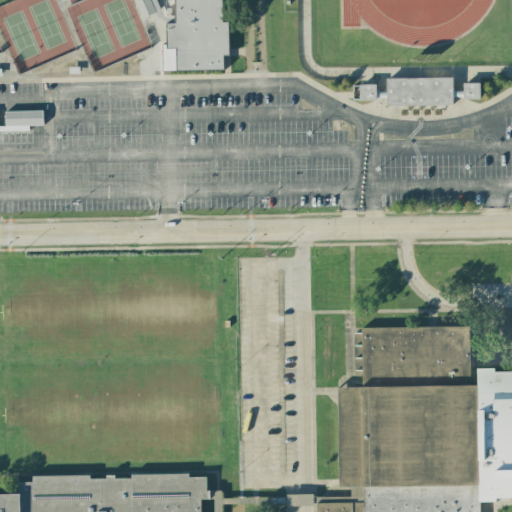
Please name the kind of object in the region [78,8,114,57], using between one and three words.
tennis court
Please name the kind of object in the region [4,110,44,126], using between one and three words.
building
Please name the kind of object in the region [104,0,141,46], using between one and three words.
tennis court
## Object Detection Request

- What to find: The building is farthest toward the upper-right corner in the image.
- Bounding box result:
[464,82,482,100]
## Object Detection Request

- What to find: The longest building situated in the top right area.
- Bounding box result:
[386,77,454,108]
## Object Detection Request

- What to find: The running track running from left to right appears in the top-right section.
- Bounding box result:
[342,0,496,48]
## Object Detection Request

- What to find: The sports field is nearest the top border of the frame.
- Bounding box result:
[2,259,220,358]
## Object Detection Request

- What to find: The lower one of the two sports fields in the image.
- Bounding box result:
[3,359,220,461]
